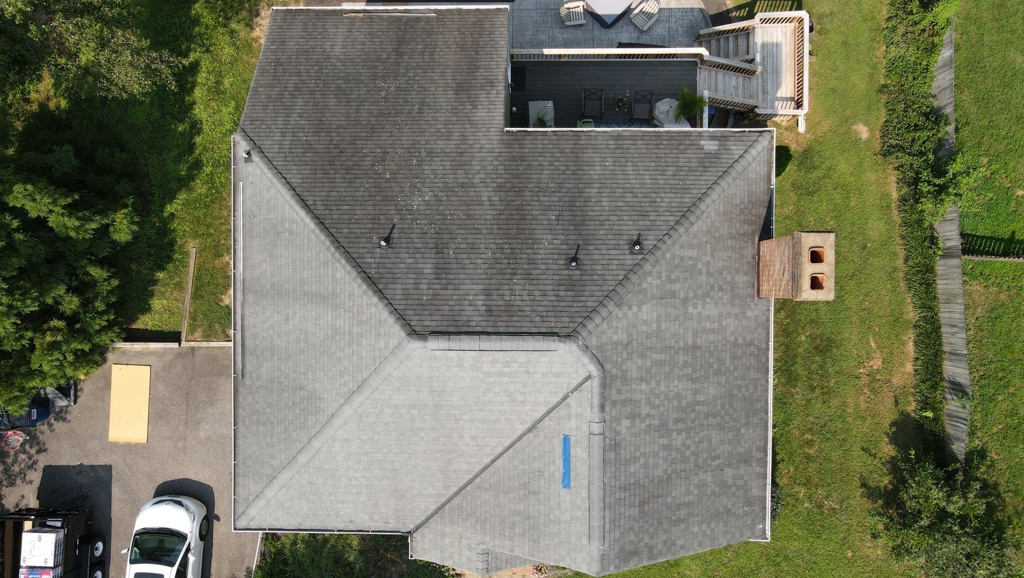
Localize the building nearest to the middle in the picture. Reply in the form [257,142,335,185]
[232,4,838,577]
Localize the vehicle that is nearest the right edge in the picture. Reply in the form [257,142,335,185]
[124,490,204,578]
